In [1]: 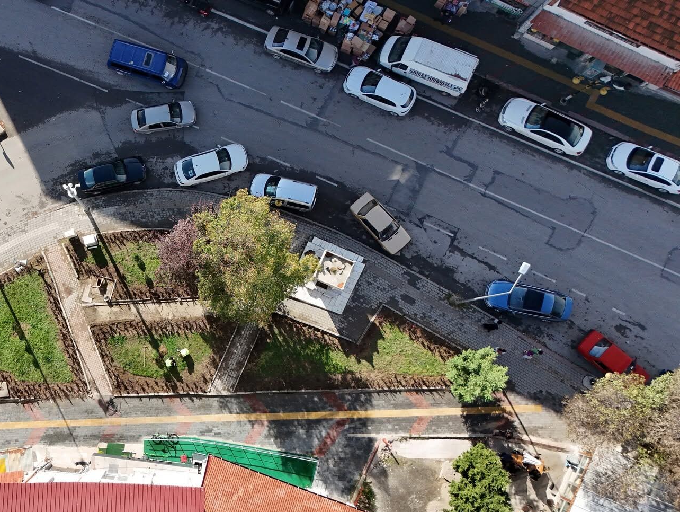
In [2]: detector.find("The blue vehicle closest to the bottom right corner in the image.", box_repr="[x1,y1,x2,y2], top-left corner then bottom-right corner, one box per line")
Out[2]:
[483,281,575,325]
